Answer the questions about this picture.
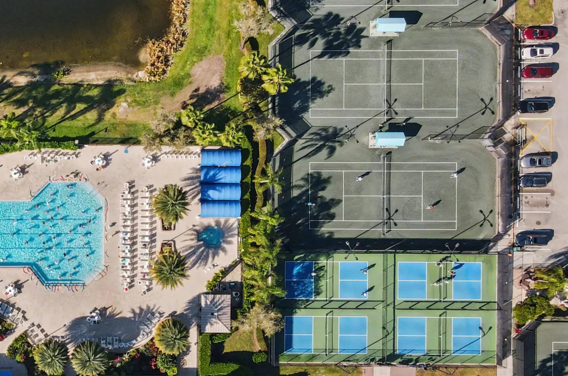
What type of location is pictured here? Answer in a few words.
sports ground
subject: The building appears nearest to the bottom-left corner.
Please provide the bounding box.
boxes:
[199,294,230,333]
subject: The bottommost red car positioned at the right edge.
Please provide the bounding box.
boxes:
[521,64,553,78]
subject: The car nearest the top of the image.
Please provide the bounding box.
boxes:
[523,25,554,40]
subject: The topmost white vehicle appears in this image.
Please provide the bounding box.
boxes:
[520,45,552,59]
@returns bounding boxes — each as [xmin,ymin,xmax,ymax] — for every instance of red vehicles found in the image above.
[523,25,554,40]
[521,64,553,78]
